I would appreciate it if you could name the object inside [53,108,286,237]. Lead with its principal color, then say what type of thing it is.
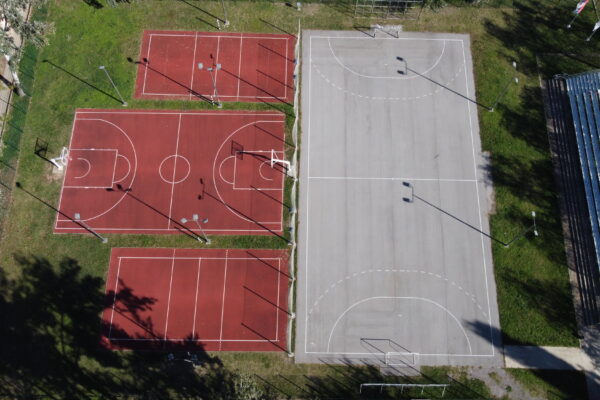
red basketball court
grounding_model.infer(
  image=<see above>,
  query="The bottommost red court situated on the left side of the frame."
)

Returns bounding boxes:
[98,247,291,352]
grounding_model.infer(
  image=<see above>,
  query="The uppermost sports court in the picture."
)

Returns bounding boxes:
[134,31,296,102]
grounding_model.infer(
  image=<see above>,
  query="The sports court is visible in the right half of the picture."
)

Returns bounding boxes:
[295,30,506,377]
